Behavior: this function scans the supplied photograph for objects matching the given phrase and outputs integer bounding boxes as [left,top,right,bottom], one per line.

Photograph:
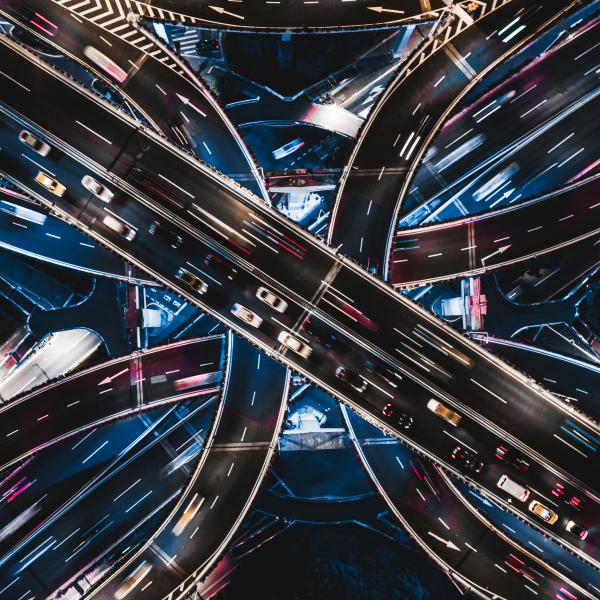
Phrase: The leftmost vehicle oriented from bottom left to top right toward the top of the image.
[270,137,305,165]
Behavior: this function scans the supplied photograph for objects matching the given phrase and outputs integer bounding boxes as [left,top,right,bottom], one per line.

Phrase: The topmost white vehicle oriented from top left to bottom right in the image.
[83,45,132,88]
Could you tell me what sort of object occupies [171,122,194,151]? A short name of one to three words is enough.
car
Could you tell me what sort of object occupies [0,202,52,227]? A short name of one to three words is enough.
bus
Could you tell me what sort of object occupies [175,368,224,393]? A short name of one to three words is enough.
bus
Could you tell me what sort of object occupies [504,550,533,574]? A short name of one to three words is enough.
car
